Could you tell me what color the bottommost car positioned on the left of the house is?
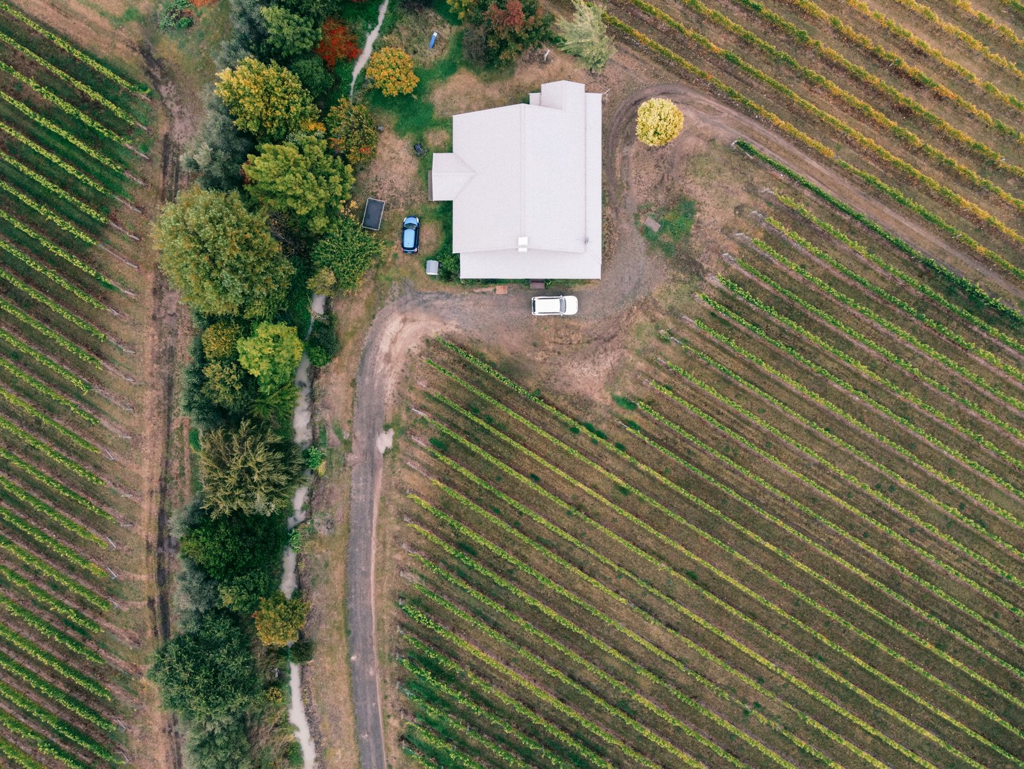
blue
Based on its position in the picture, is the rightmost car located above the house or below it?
below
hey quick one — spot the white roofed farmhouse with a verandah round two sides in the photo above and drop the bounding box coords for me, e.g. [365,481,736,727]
[428,80,605,290]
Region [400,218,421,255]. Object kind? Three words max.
car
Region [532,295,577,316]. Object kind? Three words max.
car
